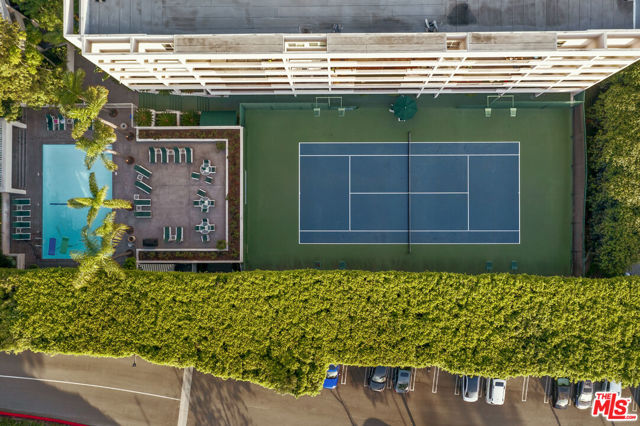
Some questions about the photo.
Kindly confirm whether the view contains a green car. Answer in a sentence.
No, this view has no green car in it.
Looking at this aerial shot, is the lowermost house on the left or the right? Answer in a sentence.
You can find the lowermost house on the left side of the picture.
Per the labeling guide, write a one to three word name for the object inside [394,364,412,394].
car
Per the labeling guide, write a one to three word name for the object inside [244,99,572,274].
tennis court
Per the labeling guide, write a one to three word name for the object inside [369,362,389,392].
car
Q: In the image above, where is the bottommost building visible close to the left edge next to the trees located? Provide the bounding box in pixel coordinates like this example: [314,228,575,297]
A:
[0,122,42,197]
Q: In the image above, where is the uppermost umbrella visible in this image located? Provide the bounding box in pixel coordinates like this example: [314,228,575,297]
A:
[392,97,416,121]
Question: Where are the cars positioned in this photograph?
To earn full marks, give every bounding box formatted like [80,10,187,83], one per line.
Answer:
[572,377,594,410]
[549,375,571,410]
[482,374,504,407]
[369,362,389,392]
[323,364,341,391]
[459,372,479,403]
[394,364,412,394]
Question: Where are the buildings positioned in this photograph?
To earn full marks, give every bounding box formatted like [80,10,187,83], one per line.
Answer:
[62,0,640,99]
[0,122,42,197]
[199,111,239,127]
